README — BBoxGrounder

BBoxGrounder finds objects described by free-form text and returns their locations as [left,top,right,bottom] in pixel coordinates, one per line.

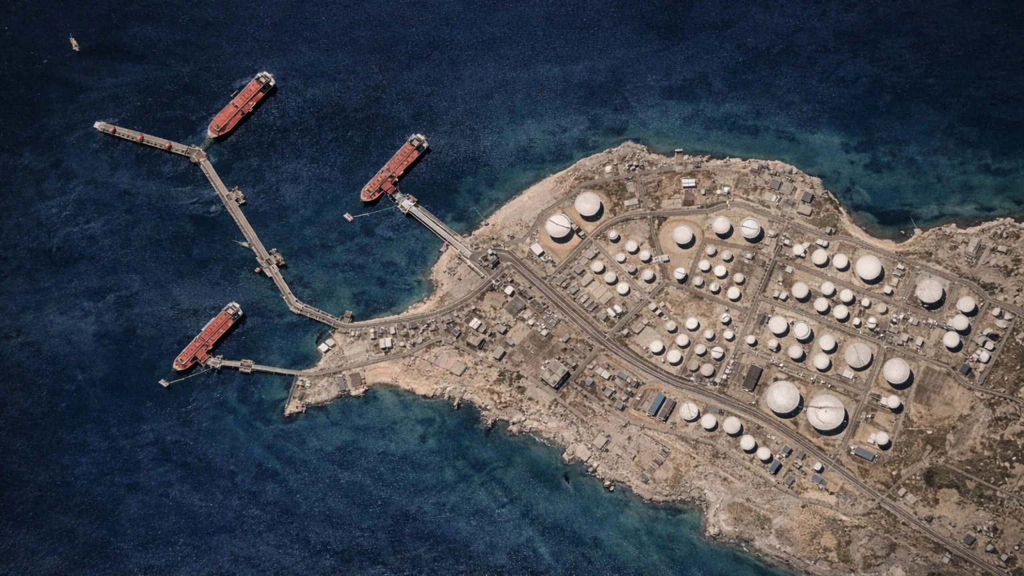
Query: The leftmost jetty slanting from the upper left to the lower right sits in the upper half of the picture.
[94,120,340,330]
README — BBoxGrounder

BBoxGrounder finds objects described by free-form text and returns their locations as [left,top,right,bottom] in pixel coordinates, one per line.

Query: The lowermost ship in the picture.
[173,302,241,371]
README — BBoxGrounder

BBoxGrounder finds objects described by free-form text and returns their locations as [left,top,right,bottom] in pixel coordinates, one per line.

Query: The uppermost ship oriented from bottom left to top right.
[207,70,275,140]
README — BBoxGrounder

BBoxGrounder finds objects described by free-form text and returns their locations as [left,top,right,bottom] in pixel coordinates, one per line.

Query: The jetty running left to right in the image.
[199,352,299,376]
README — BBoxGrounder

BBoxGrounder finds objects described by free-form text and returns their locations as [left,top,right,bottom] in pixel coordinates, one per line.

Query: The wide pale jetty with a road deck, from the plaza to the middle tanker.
[391,191,485,276]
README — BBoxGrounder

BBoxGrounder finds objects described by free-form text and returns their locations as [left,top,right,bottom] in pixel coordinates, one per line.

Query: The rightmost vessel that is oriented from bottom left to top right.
[361,135,427,201]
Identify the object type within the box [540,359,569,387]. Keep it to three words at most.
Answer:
building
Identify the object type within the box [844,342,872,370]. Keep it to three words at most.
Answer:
storage tank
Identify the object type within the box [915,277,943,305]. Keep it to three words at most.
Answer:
storage tank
